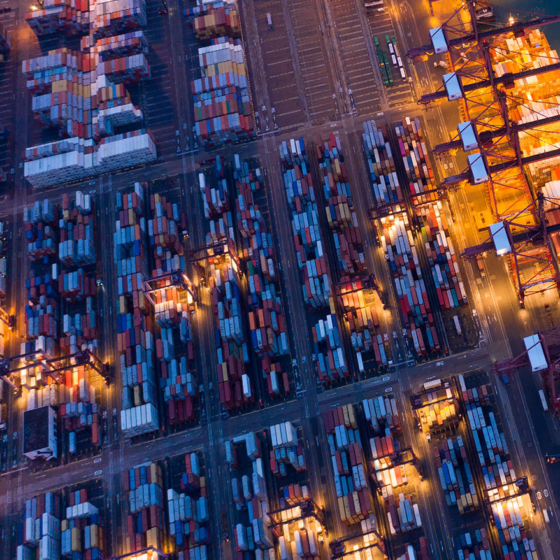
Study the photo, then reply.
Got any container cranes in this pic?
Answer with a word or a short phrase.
Yes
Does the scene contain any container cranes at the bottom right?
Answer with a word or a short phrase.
Yes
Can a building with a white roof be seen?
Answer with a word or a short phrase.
No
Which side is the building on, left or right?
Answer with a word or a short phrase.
left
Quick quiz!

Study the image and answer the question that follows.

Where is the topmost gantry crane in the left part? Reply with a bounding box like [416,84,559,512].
[191,240,245,284]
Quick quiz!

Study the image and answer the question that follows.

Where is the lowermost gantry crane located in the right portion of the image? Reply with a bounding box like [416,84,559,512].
[331,528,390,560]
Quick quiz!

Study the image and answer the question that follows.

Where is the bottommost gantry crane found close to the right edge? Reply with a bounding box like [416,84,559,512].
[481,476,534,524]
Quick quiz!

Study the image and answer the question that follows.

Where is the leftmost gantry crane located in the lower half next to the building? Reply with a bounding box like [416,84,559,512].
[0,351,60,396]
